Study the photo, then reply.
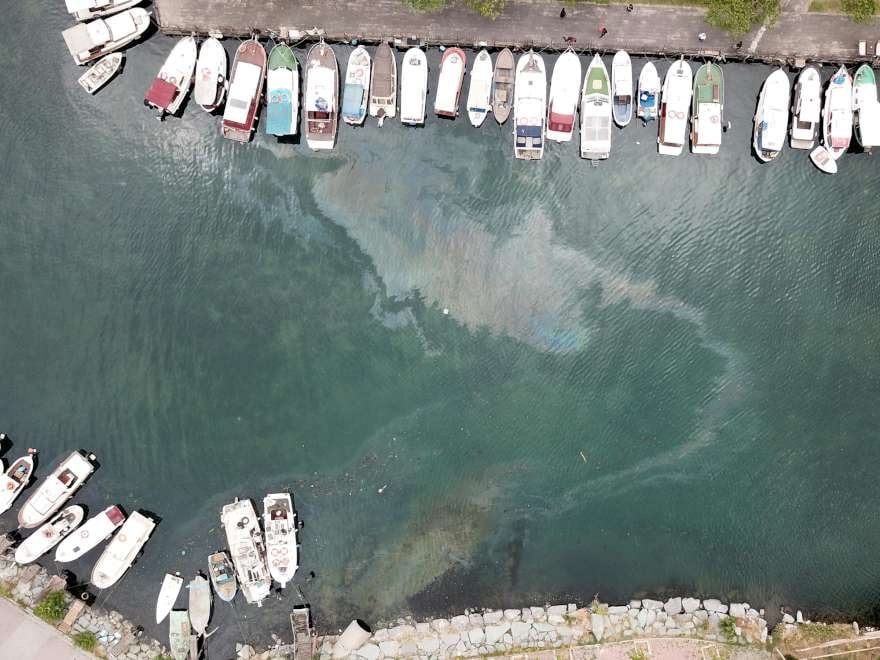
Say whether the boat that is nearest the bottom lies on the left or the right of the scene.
left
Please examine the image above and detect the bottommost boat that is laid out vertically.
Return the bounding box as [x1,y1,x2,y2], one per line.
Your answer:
[168,608,192,660]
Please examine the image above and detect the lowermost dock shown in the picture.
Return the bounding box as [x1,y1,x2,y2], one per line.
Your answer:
[292,605,315,660]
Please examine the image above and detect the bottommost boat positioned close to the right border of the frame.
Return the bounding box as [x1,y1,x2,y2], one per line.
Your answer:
[805,144,838,174]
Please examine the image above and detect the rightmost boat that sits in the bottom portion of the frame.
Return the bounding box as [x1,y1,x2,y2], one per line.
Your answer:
[263,491,303,593]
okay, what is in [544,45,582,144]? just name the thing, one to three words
boat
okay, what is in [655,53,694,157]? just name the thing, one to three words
boat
